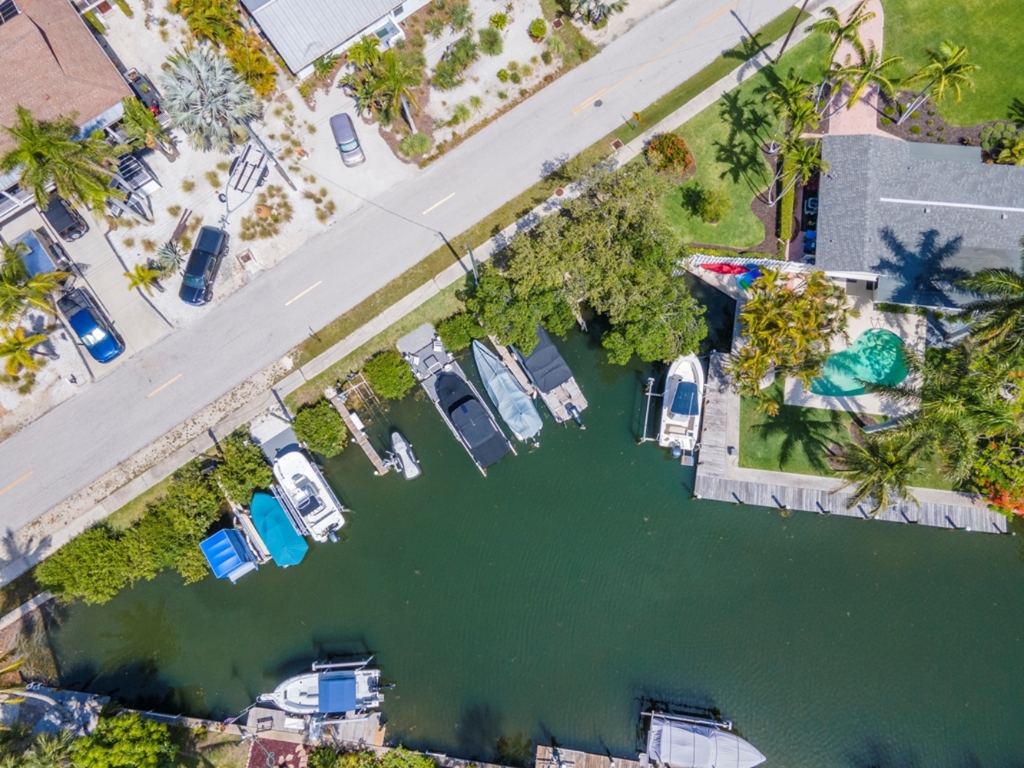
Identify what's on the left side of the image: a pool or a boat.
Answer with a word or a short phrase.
boat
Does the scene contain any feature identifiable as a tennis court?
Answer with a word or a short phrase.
No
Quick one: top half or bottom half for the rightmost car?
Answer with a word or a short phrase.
top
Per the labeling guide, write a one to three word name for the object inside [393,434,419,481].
boat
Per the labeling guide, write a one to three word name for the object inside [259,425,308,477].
pier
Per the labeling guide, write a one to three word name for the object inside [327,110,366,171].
car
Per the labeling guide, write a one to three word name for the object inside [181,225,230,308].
truck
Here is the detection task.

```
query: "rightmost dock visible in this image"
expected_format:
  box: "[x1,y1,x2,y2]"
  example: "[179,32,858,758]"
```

[693,352,1008,533]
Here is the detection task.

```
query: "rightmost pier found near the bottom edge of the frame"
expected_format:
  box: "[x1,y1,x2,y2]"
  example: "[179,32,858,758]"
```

[535,743,640,768]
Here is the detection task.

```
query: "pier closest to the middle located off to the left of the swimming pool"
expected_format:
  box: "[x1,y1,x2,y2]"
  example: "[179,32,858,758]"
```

[487,333,537,397]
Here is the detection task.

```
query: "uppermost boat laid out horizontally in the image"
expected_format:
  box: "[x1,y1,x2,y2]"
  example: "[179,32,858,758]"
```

[699,262,752,276]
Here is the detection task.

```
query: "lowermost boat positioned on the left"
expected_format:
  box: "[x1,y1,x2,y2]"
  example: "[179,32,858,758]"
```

[256,667,394,717]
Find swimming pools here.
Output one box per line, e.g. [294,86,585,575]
[784,271,928,415]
